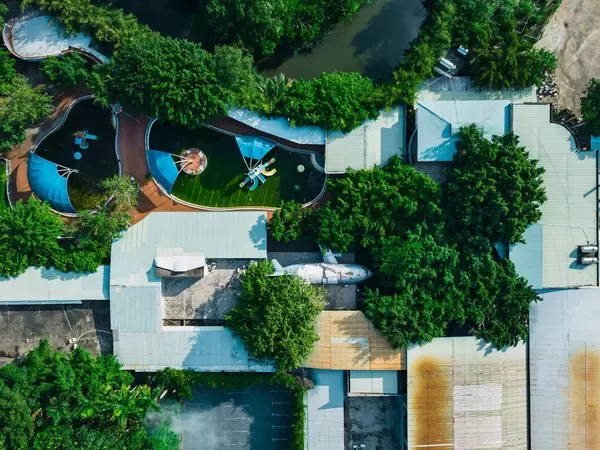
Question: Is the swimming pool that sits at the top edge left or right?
left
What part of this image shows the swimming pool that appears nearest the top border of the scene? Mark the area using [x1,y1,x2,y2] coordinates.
[1,13,112,65]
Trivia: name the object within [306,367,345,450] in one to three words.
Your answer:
shed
